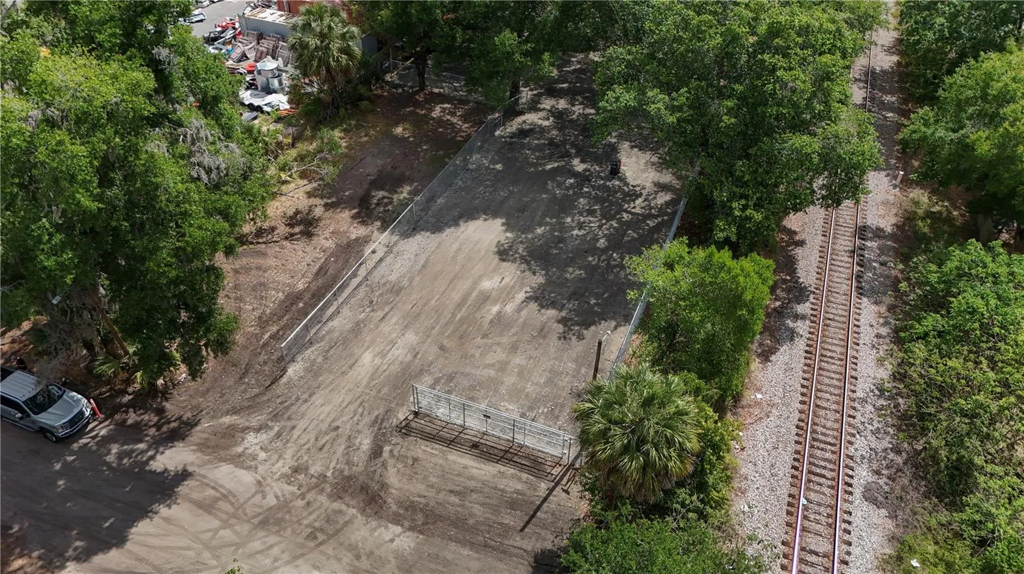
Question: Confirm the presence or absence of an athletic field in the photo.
No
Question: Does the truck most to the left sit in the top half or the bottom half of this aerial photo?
bottom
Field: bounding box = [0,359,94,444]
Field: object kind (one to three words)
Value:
truck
